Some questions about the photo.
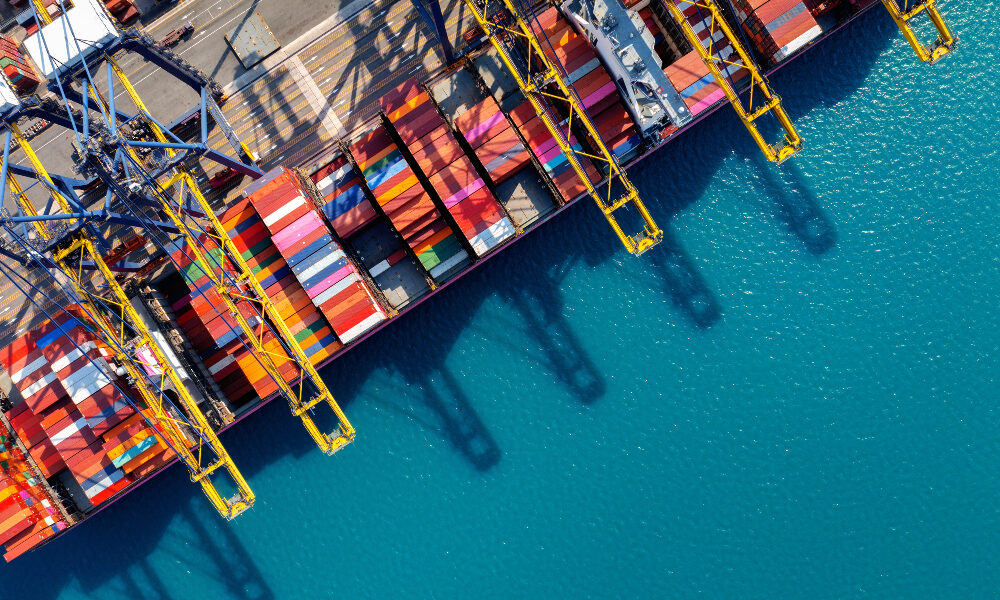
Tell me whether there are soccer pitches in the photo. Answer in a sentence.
No, I can't see a single soccer pitch in this photo.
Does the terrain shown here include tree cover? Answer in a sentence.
No, there's no tree cover in this view.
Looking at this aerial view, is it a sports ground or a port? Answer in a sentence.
The picture captures a port.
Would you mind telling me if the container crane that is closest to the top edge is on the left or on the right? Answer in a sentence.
The container crane that is closest to the top edge is on the right side of the image.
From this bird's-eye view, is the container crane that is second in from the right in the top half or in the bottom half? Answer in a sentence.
You can find the container crane that is second in from the right in the top half.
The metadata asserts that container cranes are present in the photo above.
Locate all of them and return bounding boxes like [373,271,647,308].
[398,0,664,256]
[2,0,354,457]
[876,0,953,69]
[670,0,808,163]
[0,77,255,523]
